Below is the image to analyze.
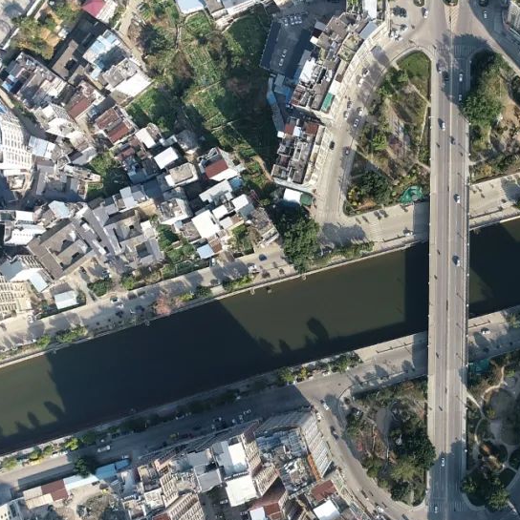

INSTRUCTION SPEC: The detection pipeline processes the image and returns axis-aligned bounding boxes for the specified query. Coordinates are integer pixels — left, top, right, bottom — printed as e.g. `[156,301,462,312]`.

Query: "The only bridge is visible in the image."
[427,67,471,465]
